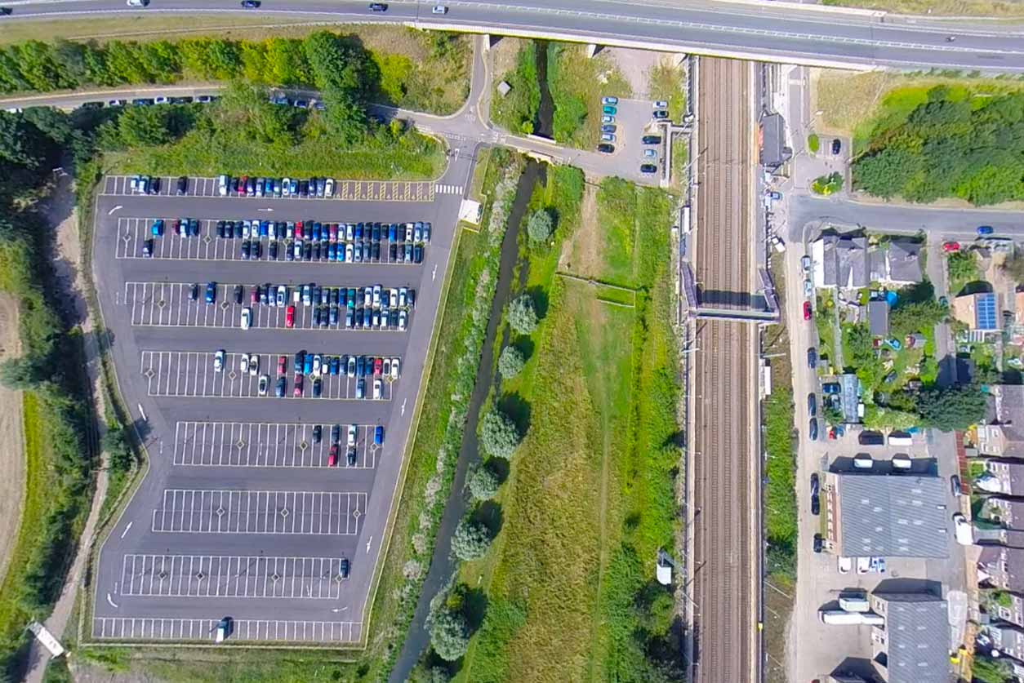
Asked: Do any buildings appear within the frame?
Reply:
Yes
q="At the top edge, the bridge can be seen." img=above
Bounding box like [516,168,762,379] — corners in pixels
[413,0,884,71]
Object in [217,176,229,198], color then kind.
white vehicle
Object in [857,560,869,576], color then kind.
white vehicle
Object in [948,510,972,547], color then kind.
white truck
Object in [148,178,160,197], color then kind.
blue vehicle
